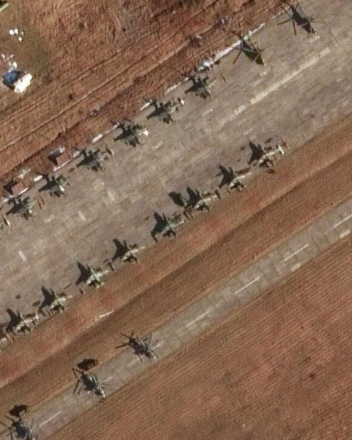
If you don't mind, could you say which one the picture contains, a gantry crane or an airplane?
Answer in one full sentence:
Visible in the photo is an airplane.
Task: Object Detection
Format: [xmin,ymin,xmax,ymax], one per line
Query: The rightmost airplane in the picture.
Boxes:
[253,144,280,167]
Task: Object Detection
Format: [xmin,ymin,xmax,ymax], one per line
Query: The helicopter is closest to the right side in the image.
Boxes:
[285,3,326,39]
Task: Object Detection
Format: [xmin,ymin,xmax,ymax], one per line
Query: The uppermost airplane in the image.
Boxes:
[192,78,218,102]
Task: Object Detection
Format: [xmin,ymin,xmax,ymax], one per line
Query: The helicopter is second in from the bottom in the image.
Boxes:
[79,366,114,399]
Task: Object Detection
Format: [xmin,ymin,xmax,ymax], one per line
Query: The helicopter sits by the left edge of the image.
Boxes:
[9,417,44,440]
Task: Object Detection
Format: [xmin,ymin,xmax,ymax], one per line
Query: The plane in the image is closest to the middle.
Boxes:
[159,214,185,238]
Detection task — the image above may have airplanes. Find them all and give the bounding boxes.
[119,241,145,264]
[156,101,181,125]
[46,290,72,313]
[121,121,148,146]
[44,173,70,197]
[11,310,38,333]
[159,214,185,238]
[83,263,110,287]
[83,147,110,173]
[226,167,251,190]
[253,144,280,167]
[12,196,38,222]
[192,78,218,102]
[190,190,217,213]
